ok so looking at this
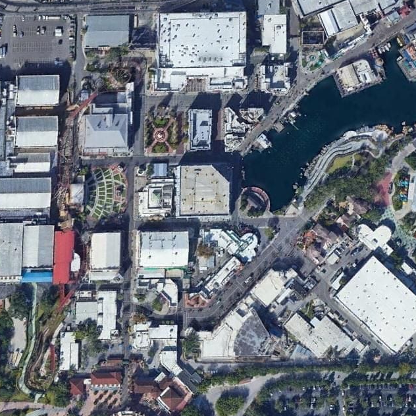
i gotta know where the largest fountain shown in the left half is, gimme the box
[151,127,168,144]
